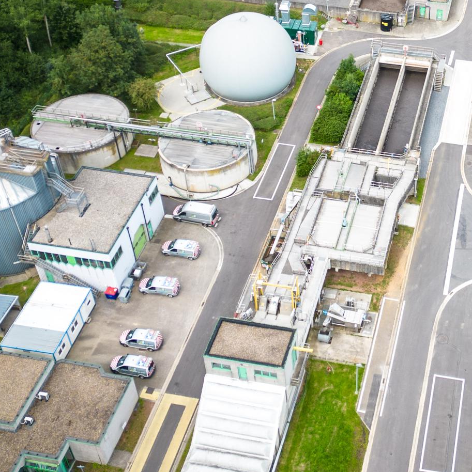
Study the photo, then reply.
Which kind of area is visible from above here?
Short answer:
industrial area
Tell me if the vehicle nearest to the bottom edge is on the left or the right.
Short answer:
left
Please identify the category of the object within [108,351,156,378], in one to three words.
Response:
vehicle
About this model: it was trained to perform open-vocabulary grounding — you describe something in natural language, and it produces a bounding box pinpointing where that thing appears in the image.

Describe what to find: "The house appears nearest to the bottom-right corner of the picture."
[204,317,316,392]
